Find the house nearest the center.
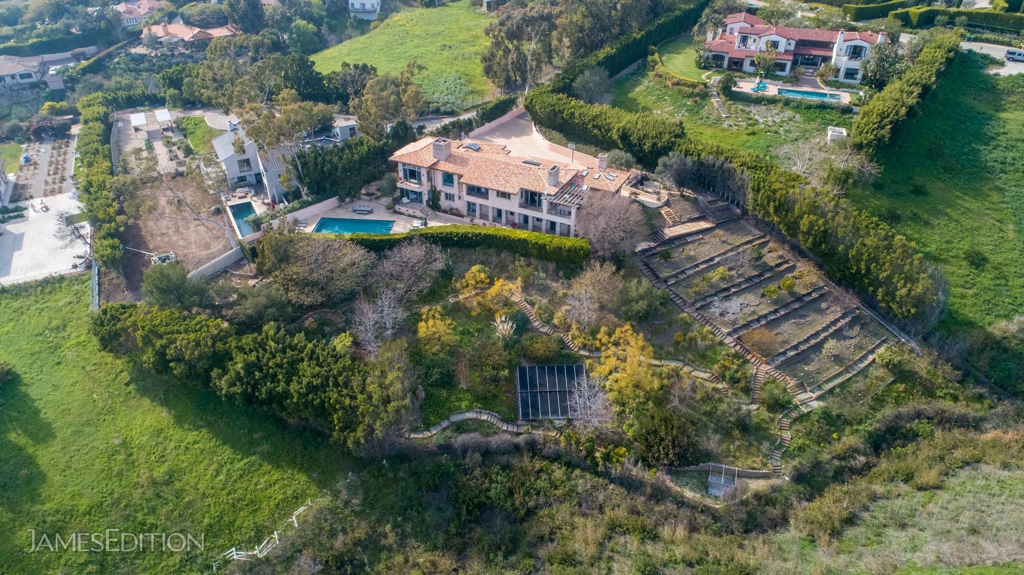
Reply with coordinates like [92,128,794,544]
[387,131,632,237]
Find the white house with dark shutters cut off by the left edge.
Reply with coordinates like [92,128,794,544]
[0,164,31,208]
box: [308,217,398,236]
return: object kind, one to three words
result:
swimming pool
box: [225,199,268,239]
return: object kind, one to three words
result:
swimming pool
